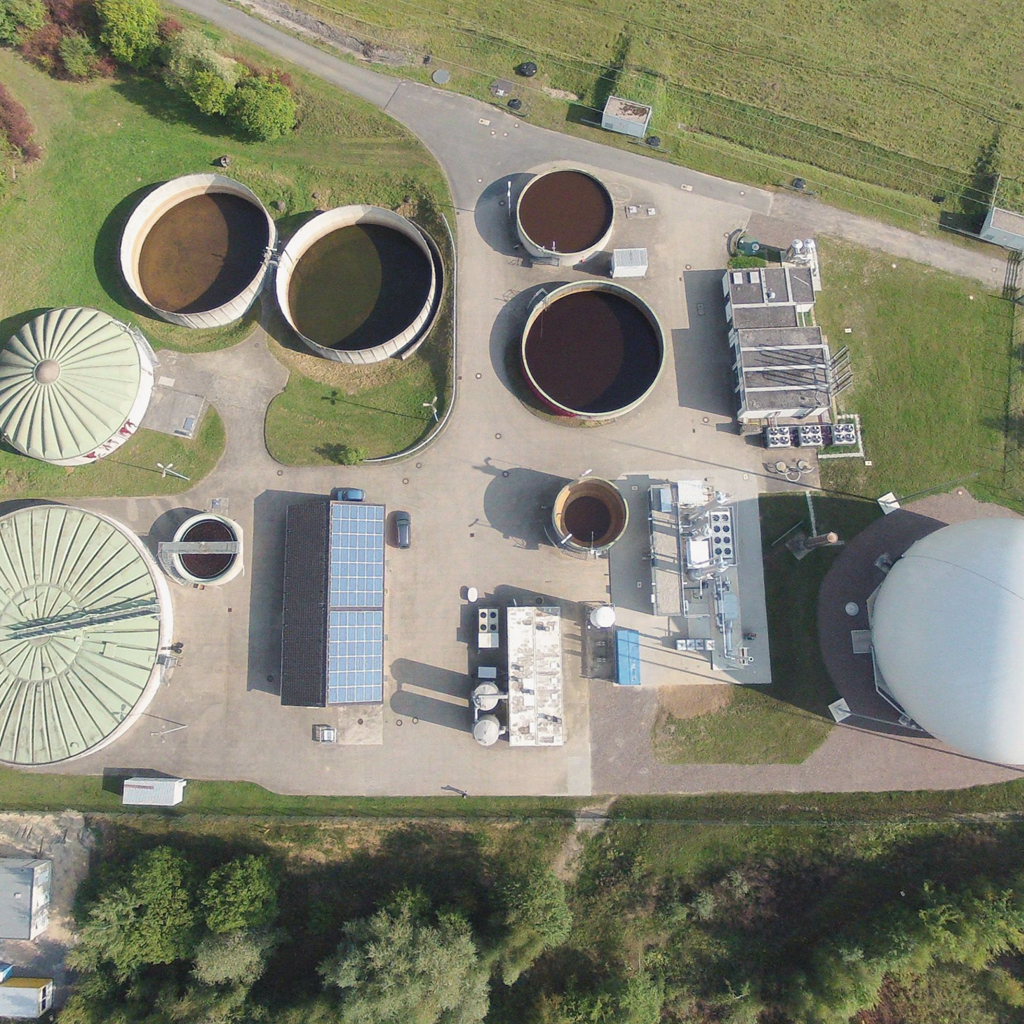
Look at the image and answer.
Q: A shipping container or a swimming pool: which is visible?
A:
shipping container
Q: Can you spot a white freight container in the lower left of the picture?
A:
Yes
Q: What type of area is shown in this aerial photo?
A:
industrial area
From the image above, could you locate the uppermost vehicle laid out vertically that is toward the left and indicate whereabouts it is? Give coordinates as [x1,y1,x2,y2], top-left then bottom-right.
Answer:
[393,512,411,550]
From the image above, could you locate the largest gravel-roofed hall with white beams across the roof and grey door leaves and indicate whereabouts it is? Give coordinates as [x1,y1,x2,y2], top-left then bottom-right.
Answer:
[726,326,834,426]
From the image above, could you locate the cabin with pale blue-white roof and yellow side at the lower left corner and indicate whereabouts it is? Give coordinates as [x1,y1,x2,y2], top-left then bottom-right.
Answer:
[0,975,56,1018]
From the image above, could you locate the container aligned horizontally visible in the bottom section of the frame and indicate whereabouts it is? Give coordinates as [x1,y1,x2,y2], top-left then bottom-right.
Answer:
[122,776,191,806]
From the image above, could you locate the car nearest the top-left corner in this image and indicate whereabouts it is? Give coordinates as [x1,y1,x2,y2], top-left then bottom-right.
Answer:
[337,488,367,503]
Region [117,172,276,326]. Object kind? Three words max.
storage tank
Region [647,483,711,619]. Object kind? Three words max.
building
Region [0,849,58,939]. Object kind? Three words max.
shed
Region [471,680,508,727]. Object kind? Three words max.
silo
